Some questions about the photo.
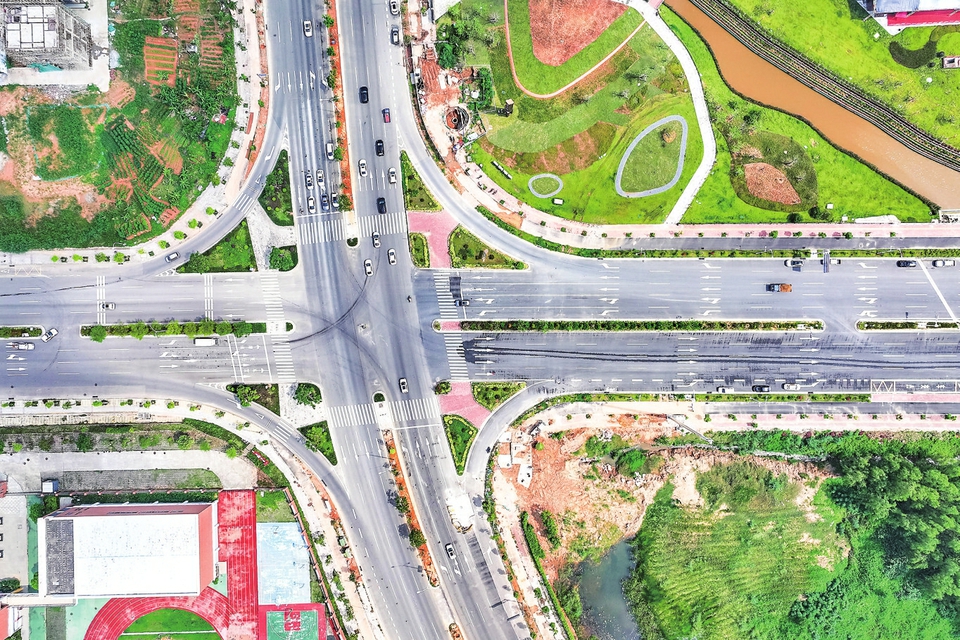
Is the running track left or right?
left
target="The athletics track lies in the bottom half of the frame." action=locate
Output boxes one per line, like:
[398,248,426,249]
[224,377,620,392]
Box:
[83,491,259,640]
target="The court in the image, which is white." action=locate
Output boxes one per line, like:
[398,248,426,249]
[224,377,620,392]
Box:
[258,522,311,604]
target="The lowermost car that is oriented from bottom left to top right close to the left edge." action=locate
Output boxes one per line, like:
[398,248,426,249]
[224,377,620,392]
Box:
[42,328,59,341]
